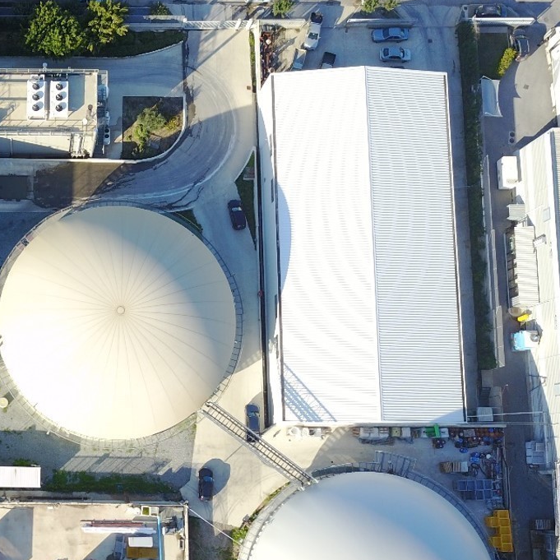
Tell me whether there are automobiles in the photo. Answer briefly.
Yes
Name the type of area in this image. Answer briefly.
industrial area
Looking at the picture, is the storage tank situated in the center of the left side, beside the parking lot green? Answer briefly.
No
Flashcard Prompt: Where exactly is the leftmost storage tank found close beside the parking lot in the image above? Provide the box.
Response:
[0,199,245,454]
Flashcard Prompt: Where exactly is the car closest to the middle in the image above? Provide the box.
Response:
[228,199,248,230]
